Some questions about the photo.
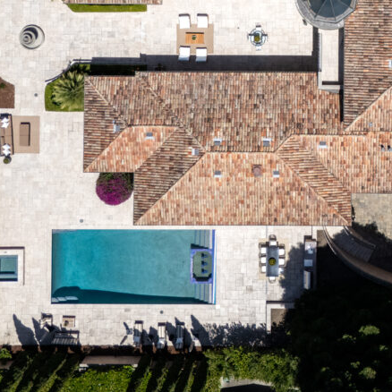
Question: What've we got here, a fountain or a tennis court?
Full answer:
It is a fountain that can be seen here.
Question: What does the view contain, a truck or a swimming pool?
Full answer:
The one in the frame is a swimming pool.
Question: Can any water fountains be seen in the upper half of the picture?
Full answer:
Yes, there is a water fountain in the upper half of the picture.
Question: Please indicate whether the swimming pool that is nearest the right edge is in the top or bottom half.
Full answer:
The bottom half of the photo is where the swimming pool that is nearest the right edge is.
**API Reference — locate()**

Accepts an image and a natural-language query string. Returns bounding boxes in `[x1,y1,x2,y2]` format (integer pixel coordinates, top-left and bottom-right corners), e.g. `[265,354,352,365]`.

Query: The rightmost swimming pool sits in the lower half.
[47,226,219,309]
